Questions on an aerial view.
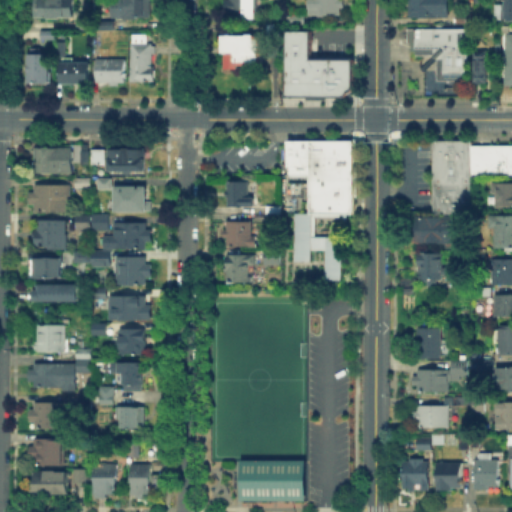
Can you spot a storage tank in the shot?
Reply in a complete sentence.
No, no storage tank is visible in the scene.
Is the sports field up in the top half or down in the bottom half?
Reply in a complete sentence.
Seen from above, the sports field lies in the bottom half of the view.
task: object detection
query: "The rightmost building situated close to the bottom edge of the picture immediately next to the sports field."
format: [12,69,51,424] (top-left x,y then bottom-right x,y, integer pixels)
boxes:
[238,461,304,502]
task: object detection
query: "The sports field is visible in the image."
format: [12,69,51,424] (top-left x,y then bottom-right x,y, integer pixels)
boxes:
[213,298,308,460]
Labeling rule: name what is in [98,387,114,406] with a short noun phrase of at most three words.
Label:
building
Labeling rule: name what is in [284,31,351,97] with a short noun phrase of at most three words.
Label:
building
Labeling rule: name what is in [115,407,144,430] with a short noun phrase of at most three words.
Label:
house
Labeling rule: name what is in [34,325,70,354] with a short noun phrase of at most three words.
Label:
house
